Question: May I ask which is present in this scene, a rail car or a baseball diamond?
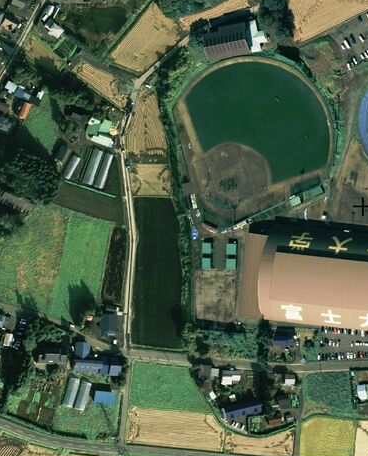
baseball diamond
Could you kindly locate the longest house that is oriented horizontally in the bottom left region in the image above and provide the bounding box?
[73,361,123,376]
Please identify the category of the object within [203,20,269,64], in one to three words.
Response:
building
